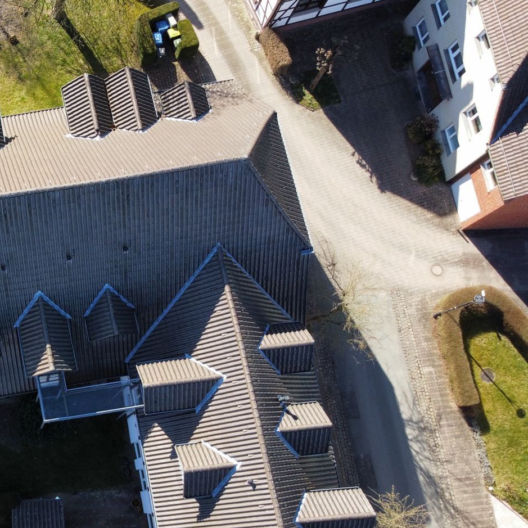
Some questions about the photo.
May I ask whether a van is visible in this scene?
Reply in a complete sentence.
No, the photo shows no van.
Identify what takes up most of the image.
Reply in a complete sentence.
What you mostly see from above here is buildings.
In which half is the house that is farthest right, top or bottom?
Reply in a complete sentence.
The house that is farthest right is in the top half of the image.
